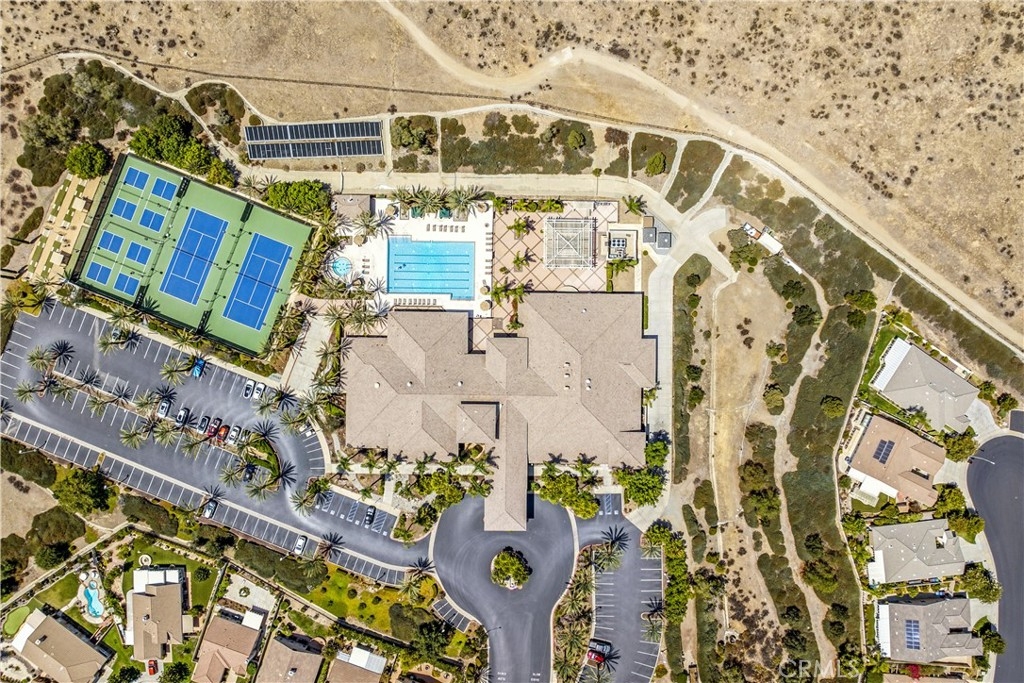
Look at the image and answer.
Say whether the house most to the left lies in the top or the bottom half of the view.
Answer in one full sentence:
You can find the house most to the left in the bottom half.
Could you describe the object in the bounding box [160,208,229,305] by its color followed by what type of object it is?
blue tennis court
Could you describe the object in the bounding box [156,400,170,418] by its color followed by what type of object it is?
white car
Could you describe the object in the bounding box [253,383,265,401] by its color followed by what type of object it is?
white vehicle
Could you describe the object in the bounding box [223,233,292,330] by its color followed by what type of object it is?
blue tennis court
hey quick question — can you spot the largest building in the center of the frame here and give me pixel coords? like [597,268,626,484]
[346,292,657,531]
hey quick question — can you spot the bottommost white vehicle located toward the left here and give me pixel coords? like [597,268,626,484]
[295,536,307,554]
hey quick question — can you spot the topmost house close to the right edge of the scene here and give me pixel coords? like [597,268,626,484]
[869,338,980,435]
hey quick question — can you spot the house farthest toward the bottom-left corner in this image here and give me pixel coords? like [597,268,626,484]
[11,606,123,683]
